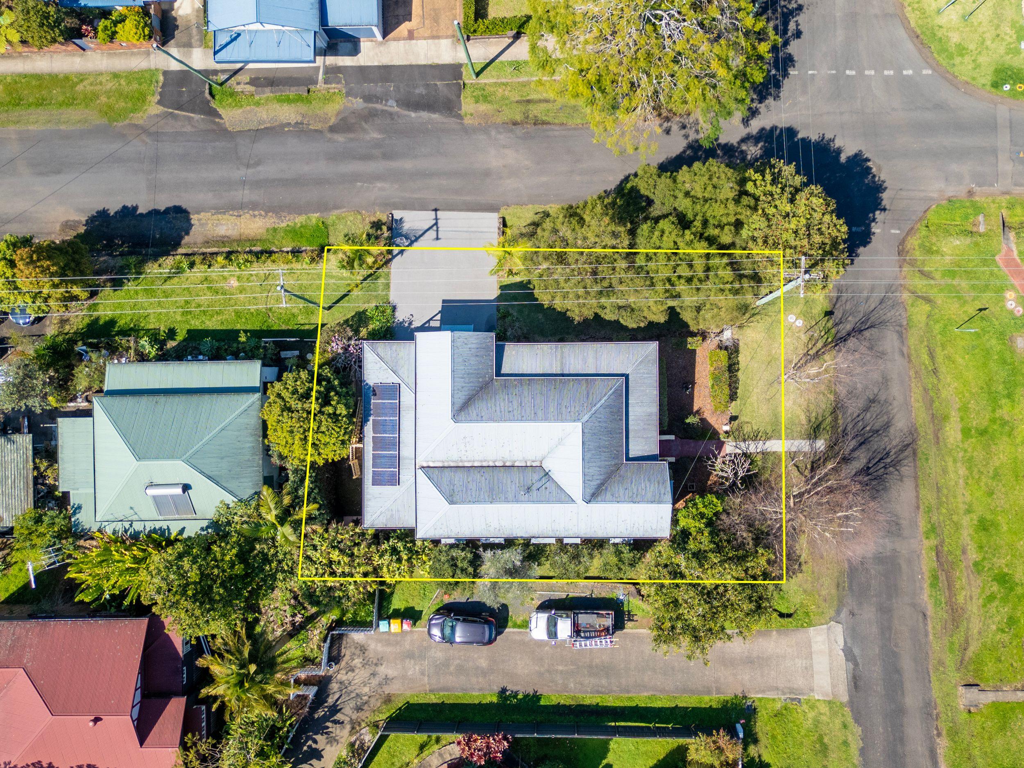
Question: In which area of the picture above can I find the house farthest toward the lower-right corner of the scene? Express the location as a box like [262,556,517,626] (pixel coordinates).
[362,325,674,544]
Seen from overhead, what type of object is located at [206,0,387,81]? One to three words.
building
